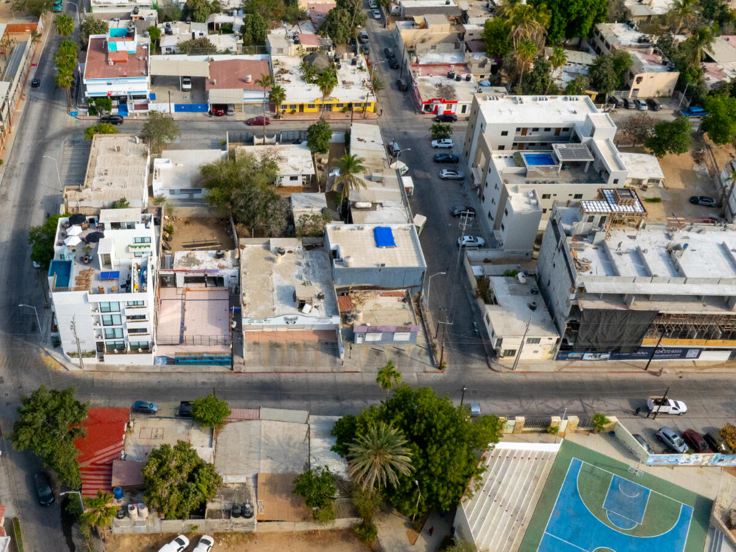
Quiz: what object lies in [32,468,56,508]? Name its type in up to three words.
car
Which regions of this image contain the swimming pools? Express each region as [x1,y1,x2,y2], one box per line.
[523,154,553,165]
[51,262,70,288]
